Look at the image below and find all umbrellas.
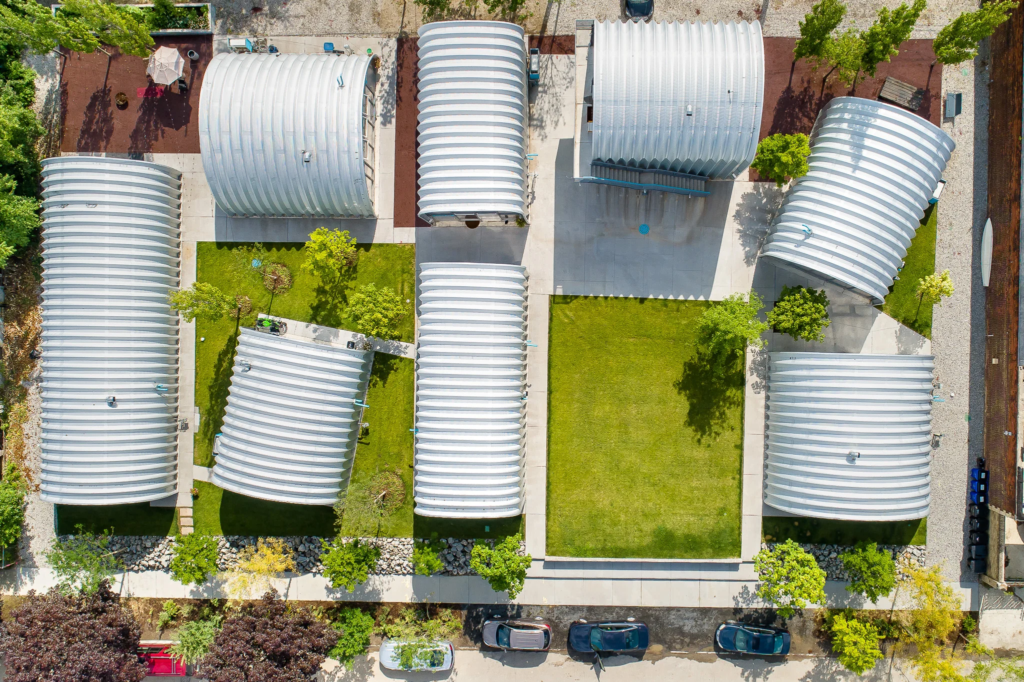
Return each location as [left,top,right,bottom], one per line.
[149,45,183,86]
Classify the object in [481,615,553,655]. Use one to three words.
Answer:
car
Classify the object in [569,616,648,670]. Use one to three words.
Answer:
car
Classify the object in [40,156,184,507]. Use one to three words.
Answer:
shed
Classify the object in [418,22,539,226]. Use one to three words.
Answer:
shed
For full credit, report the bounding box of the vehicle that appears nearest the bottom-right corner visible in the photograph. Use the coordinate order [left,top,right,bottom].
[713,617,791,657]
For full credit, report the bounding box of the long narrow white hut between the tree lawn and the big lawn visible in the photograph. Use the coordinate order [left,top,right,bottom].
[407,262,539,521]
